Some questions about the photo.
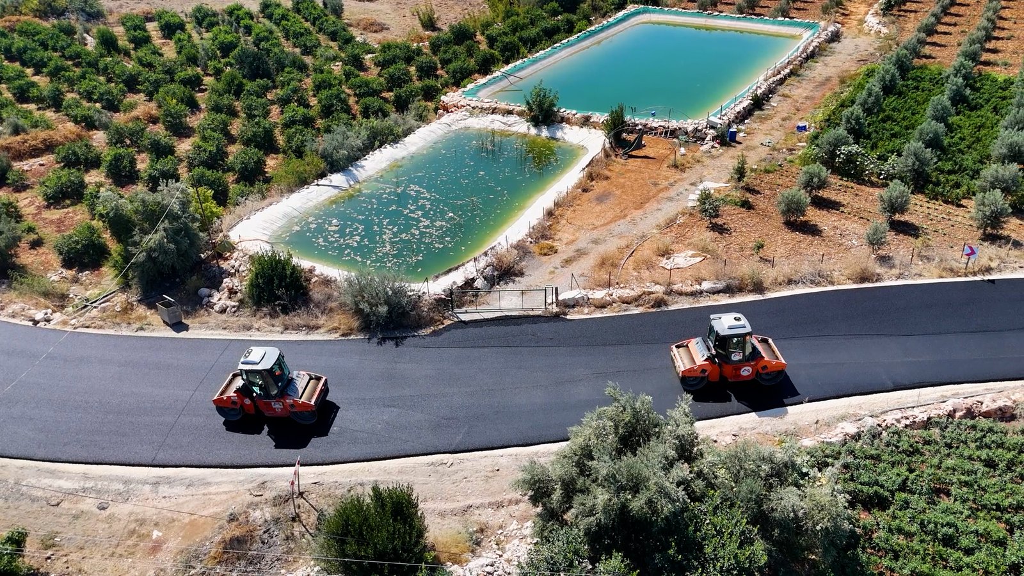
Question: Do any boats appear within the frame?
No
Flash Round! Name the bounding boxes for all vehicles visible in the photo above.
[665,313,787,393]
[208,346,329,422]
